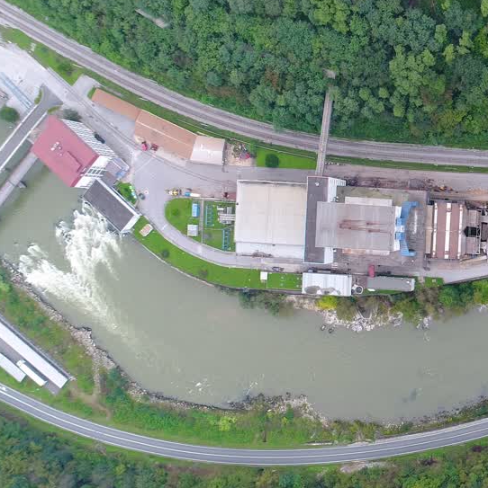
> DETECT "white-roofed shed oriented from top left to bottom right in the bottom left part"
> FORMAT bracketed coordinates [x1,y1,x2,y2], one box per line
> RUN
[0,355,29,382]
